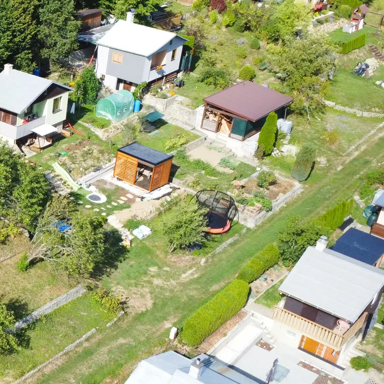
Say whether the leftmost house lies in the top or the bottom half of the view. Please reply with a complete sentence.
The top half of the photo is where the leftmost house is.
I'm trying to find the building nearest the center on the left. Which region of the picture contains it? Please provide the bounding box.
[114,140,178,203]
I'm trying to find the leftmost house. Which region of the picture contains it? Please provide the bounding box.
[0,59,75,144]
